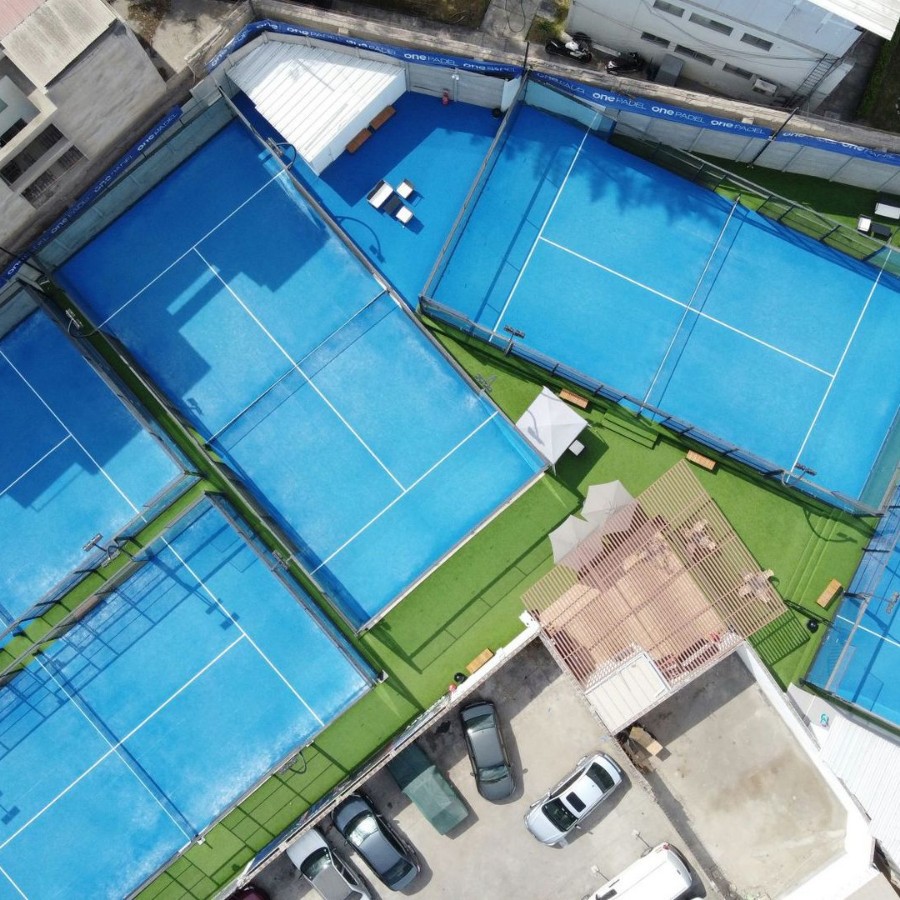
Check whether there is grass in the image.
Yes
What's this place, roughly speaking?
sports ground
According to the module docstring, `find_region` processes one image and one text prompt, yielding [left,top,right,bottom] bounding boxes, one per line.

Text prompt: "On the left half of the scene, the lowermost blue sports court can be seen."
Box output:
[0,497,379,900]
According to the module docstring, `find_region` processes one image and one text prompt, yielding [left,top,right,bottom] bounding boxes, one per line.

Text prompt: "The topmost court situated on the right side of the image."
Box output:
[422,71,900,513]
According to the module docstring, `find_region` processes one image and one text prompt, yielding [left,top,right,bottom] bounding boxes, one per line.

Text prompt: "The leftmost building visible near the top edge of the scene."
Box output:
[0,0,168,217]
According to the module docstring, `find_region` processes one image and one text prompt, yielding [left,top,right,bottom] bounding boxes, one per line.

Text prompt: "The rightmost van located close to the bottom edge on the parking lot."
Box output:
[594,848,697,900]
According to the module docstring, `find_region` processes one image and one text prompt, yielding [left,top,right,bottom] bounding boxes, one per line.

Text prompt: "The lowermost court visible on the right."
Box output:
[805,461,900,724]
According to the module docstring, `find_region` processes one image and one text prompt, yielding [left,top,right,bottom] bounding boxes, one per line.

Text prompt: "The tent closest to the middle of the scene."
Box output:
[513,388,587,465]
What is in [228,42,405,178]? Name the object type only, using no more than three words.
shed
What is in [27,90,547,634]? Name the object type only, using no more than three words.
sports court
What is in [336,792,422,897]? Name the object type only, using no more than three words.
car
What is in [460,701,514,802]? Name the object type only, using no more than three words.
car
